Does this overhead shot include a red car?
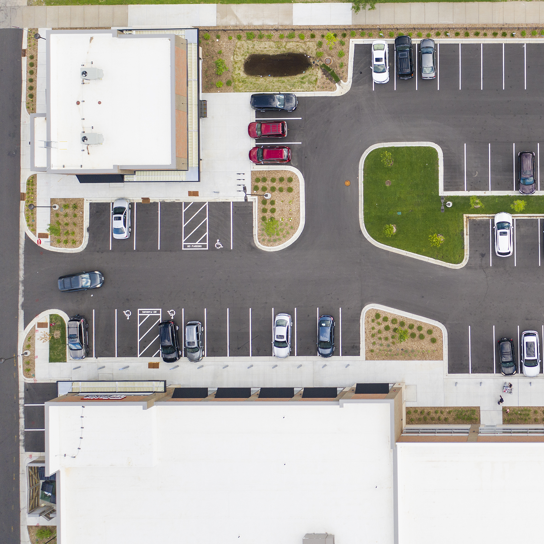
Yes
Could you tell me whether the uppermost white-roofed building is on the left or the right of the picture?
left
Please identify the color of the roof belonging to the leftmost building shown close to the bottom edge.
white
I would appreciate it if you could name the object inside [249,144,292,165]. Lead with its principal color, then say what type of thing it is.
red car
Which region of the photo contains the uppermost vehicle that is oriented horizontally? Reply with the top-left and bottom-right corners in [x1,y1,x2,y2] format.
[250,91,298,112]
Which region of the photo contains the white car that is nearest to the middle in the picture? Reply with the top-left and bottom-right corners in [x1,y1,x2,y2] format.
[271,313,293,358]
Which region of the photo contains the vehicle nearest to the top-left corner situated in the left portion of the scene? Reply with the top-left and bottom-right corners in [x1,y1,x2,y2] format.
[111,198,133,239]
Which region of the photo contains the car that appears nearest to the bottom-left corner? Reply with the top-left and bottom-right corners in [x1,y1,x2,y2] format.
[66,320,89,359]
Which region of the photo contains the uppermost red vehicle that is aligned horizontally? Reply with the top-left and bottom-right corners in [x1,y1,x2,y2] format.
[248,119,289,139]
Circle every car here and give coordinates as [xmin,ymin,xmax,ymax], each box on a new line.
[249,144,292,165]
[66,320,89,359]
[517,150,537,195]
[494,212,514,257]
[497,336,517,375]
[394,35,415,80]
[57,271,106,294]
[271,313,293,358]
[248,119,289,139]
[316,315,336,357]
[418,39,437,80]
[159,320,182,362]
[111,198,133,239]
[250,91,298,112]
[521,330,541,376]
[370,39,390,84]
[184,321,206,361]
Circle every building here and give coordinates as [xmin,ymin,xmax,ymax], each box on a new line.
[30,28,201,183]
[48,380,407,544]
